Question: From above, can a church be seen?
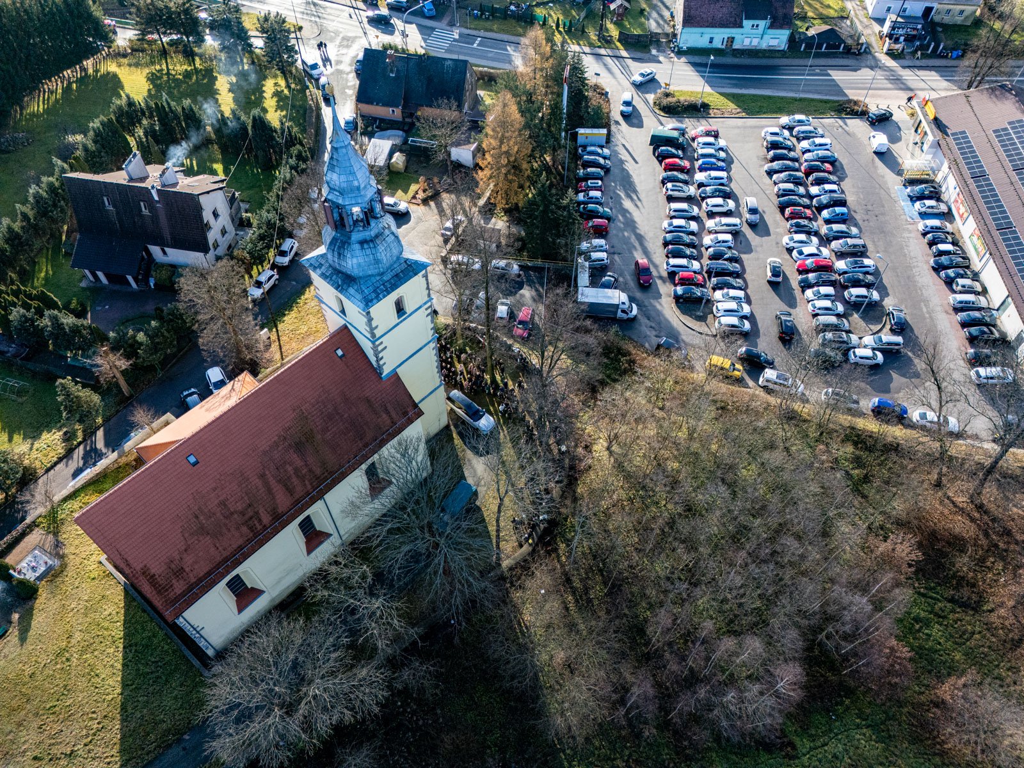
Yes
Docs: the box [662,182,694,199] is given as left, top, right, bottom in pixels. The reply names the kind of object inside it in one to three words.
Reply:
car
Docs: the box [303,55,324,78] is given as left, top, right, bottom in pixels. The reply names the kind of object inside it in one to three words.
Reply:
vehicle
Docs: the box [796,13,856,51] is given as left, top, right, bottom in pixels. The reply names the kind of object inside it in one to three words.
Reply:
building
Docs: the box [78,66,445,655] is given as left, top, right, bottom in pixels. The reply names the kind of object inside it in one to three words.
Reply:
church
